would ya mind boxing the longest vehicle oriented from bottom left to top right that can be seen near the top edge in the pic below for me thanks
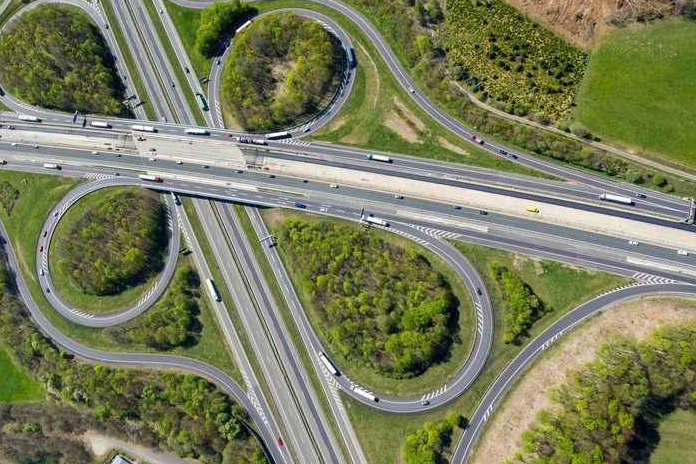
[234,19,256,34]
